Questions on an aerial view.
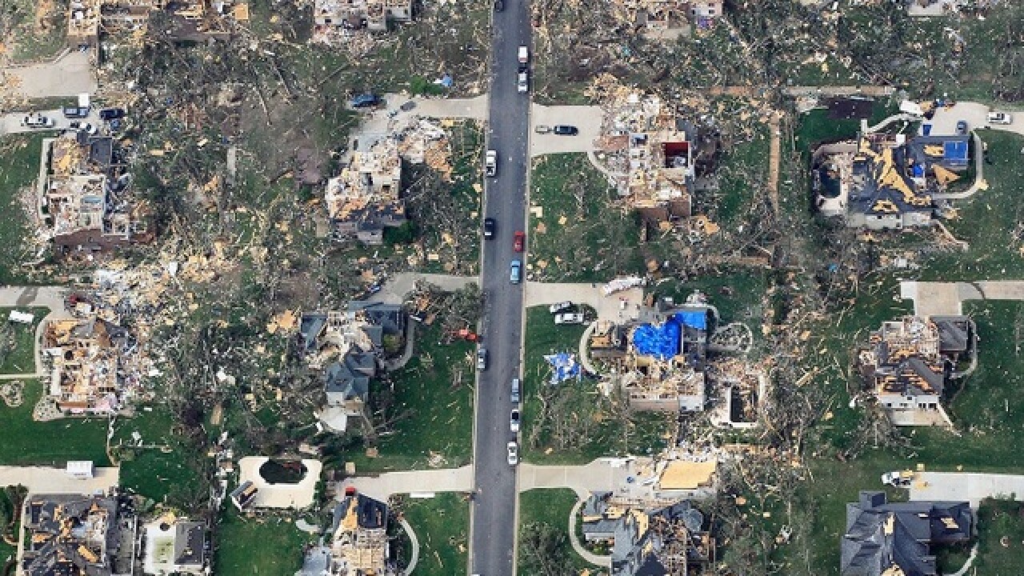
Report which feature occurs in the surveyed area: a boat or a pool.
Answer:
pool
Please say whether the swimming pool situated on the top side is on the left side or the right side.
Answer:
right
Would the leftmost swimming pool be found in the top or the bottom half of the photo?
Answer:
bottom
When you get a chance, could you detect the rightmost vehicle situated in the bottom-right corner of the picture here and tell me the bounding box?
[882,470,914,485]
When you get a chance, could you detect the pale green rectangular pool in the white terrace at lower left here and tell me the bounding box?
[152,535,175,565]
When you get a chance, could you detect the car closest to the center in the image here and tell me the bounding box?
[510,259,522,282]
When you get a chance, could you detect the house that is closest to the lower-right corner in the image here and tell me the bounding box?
[840,490,970,576]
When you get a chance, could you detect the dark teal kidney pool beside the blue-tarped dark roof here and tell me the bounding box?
[818,160,841,198]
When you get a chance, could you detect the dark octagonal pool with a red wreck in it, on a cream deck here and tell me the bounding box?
[258,459,308,485]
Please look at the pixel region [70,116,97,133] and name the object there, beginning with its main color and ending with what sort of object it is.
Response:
white car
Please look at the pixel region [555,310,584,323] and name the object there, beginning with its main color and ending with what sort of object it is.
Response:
white vehicle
